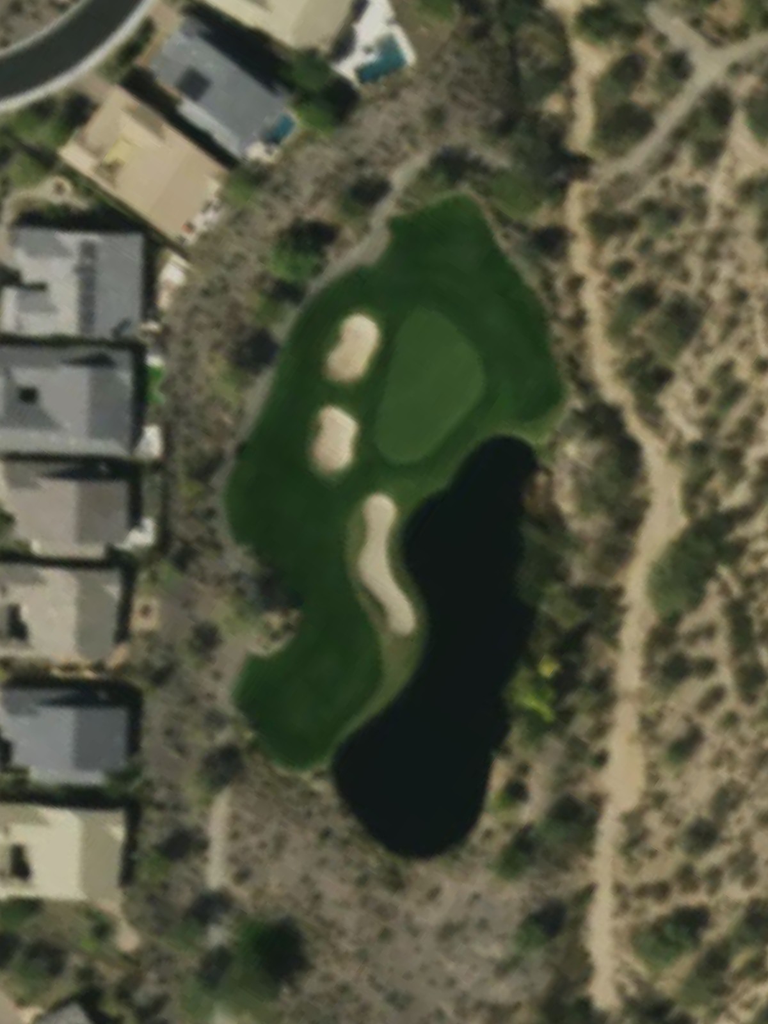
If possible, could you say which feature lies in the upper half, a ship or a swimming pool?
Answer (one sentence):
Looking in the upper half, you will find a swimming pool.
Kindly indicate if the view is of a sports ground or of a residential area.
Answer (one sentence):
It's a residential area.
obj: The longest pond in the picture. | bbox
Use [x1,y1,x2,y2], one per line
[330,433,542,860]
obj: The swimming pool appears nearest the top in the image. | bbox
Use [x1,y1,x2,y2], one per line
[355,34,409,83]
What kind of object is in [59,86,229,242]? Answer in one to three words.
house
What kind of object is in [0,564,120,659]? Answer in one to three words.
house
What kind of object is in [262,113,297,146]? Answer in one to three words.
swimming pool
